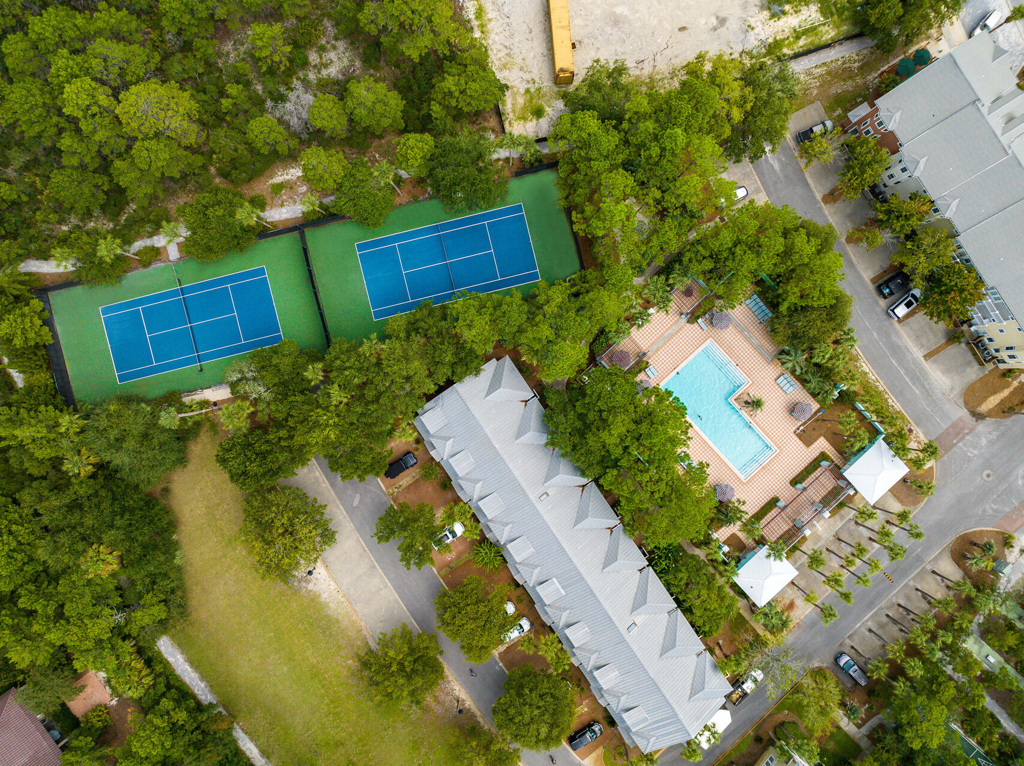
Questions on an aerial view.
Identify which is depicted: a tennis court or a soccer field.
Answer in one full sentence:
The image shows a tennis court.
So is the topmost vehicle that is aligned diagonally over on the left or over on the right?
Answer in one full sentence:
The topmost vehicle that is aligned diagonally appears in the right half of the scene.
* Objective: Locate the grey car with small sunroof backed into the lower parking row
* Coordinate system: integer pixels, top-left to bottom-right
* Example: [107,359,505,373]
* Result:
[835,652,869,687]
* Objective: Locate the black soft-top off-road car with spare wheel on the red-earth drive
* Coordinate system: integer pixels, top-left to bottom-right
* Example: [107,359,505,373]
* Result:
[385,453,418,479]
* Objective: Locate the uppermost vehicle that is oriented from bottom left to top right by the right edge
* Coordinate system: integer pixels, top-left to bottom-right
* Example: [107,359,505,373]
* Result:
[969,6,1005,33]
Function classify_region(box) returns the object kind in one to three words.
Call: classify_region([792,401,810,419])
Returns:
umbrella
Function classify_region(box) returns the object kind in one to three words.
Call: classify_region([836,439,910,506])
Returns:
building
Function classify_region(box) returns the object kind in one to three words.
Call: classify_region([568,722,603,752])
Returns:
car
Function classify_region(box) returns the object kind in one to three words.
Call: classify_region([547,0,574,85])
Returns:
shipping container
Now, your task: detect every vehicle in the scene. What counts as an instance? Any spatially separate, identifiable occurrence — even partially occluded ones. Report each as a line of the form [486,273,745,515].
[969,6,1005,33]
[872,271,911,299]
[724,668,764,708]
[885,291,921,318]
[715,185,749,210]
[568,722,603,752]
[502,600,518,620]
[795,119,834,145]
[437,523,467,553]
[385,453,418,479]
[499,618,533,644]
[835,652,869,687]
